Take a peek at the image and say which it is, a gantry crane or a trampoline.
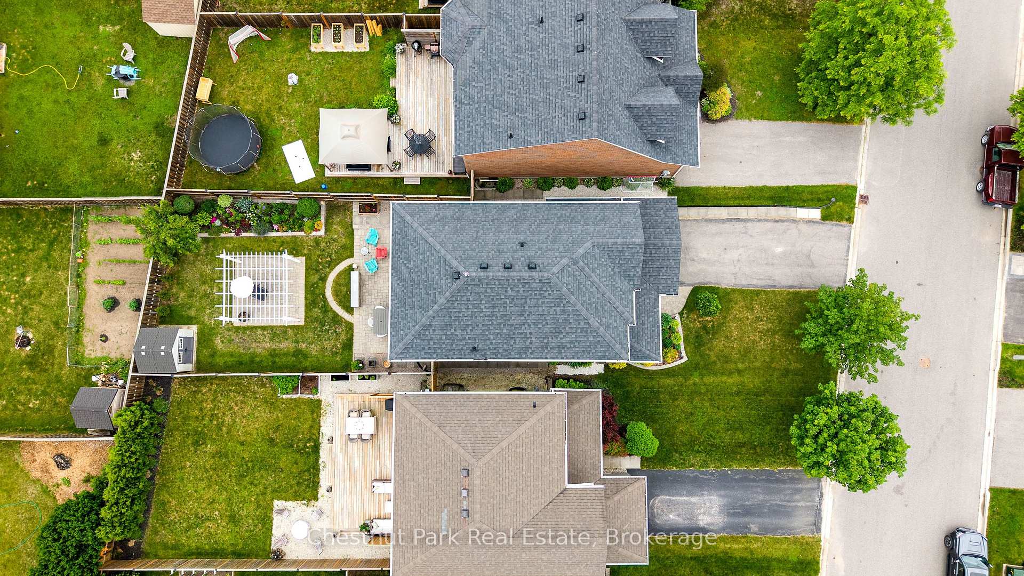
trampoline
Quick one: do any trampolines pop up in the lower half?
No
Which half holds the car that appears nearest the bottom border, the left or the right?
right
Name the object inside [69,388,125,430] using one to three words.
shed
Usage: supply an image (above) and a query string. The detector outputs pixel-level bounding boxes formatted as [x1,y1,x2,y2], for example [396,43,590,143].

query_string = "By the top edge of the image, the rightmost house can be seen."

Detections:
[439,0,702,178]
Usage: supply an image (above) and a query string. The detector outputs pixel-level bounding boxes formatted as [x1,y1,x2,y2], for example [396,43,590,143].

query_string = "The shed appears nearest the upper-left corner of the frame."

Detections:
[137,0,206,33]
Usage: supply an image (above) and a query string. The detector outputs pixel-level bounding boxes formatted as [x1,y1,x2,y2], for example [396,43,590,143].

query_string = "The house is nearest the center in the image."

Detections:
[389,194,688,363]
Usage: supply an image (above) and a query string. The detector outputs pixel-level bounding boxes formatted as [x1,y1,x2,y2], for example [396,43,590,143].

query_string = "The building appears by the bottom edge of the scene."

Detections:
[390,387,650,576]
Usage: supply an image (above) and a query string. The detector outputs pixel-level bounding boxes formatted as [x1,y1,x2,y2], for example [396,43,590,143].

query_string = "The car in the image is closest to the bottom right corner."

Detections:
[943,525,993,576]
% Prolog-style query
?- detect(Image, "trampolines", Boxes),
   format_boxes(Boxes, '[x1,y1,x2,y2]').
[188,104,268,177]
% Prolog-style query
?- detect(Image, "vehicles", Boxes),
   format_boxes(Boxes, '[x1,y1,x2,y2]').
[973,121,1022,214]
[943,525,993,576]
